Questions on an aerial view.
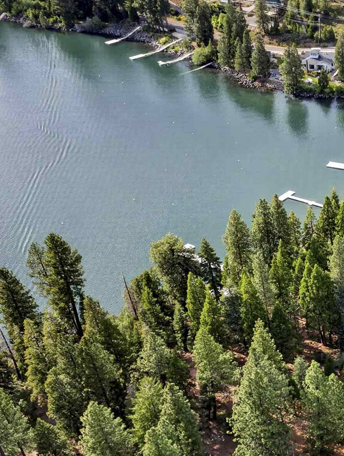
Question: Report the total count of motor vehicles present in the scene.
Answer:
0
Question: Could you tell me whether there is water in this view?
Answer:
Yes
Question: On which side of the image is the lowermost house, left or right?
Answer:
right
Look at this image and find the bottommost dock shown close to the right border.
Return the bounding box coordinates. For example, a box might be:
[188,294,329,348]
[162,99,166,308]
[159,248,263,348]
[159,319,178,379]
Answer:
[277,189,337,210]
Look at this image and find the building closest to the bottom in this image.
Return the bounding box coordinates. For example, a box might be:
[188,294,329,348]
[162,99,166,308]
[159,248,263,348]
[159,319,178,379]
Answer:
[298,47,337,76]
